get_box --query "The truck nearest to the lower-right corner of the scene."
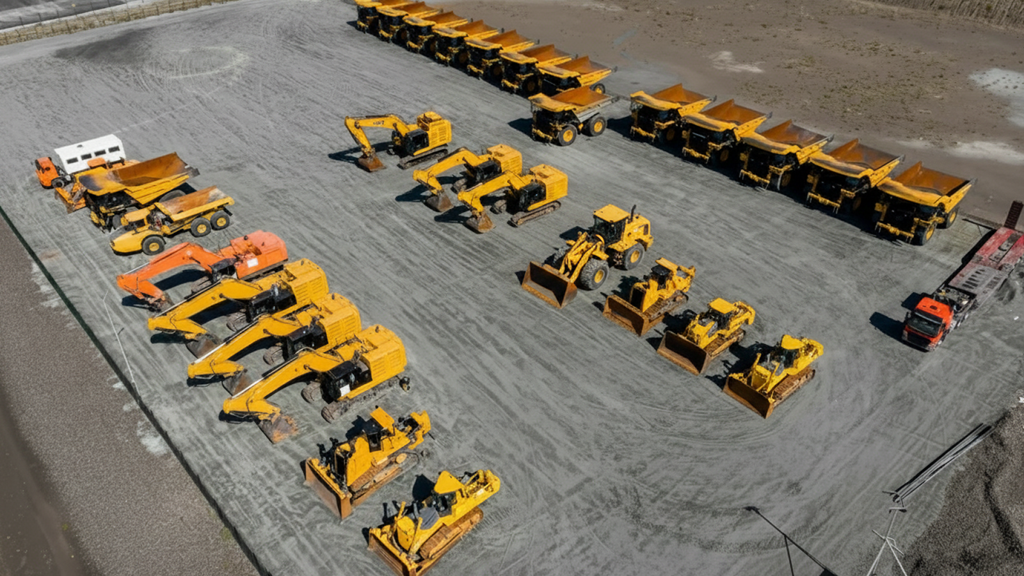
[900,291,971,352]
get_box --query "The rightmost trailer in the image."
[947,194,1024,302]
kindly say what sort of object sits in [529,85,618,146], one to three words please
truck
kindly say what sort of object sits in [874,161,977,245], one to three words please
truck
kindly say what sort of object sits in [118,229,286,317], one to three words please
work vehicle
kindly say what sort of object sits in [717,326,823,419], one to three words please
work vehicle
